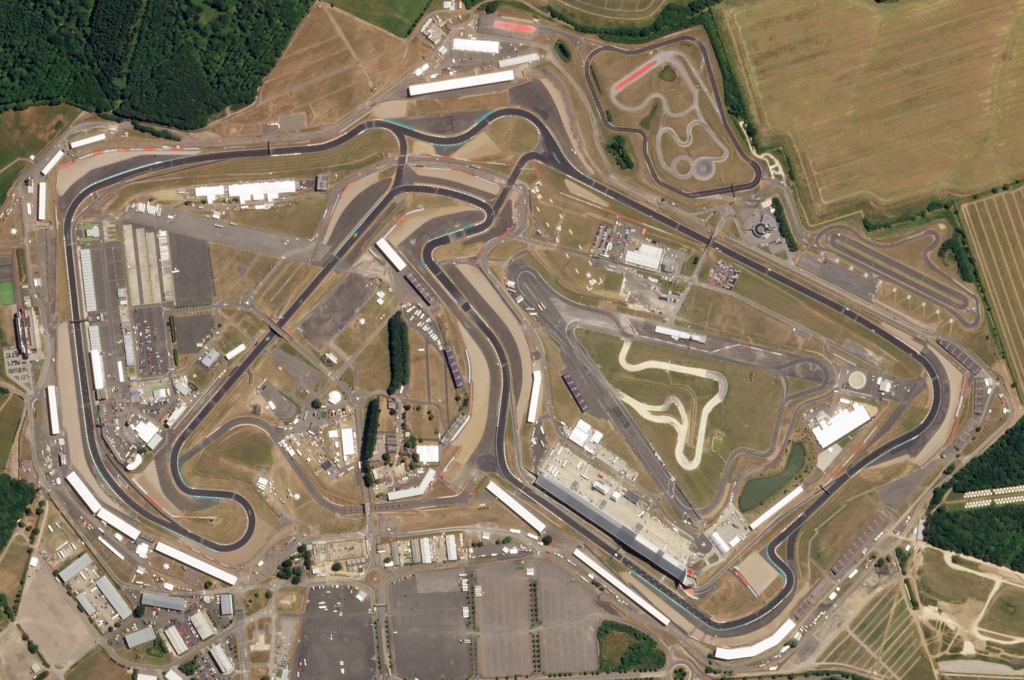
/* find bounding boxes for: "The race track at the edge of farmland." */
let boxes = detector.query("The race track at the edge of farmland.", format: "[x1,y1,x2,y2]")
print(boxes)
[64,106,941,629]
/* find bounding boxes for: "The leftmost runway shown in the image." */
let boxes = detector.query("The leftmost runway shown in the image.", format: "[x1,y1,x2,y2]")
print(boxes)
[98,208,330,266]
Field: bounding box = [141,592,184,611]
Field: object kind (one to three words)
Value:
building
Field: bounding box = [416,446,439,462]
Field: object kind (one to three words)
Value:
tent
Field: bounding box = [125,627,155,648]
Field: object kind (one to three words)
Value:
building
